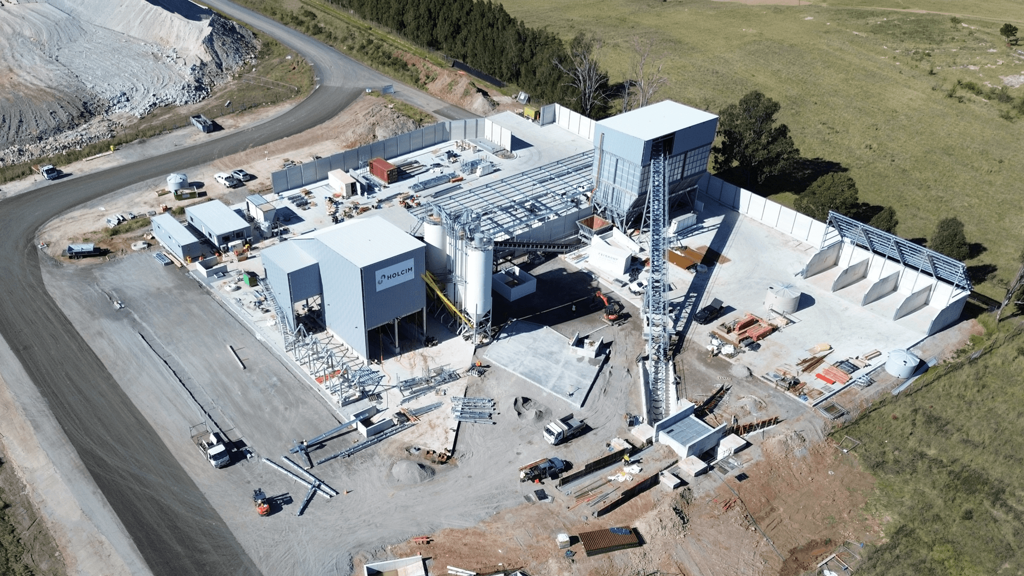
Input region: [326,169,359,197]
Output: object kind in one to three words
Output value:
shipping container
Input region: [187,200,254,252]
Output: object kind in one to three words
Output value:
building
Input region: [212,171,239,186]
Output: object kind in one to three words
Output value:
vehicle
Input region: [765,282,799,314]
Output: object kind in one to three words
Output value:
water tank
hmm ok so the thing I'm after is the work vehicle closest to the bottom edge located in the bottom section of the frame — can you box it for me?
[252,478,269,516]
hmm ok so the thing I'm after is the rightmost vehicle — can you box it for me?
[691,292,722,323]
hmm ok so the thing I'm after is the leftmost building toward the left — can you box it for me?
[150,213,203,261]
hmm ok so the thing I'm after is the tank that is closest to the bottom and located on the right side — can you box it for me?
[884,346,923,381]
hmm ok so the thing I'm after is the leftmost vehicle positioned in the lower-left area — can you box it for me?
[193,418,228,464]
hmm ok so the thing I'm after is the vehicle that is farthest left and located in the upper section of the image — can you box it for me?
[33,160,56,179]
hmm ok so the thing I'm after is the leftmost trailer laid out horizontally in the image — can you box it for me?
[57,239,116,257]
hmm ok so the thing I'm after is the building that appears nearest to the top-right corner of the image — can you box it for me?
[592,98,718,223]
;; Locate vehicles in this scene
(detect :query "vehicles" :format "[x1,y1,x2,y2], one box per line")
[212,171,239,186]
[602,290,623,326]
[33,160,56,179]
[193,418,228,464]
[252,478,269,516]
[229,167,252,180]
[423,336,439,348]
[522,457,570,486]
[542,413,591,444]
[625,275,655,293]
[691,292,722,323]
